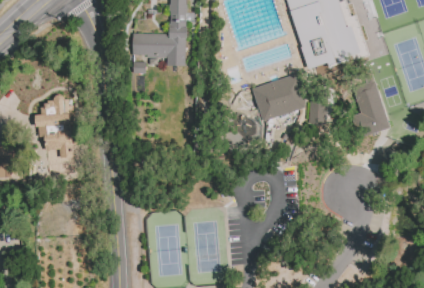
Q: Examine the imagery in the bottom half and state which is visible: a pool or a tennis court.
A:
tennis court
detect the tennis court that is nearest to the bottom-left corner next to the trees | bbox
[148,210,188,288]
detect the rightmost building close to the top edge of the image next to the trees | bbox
[286,0,361,72]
